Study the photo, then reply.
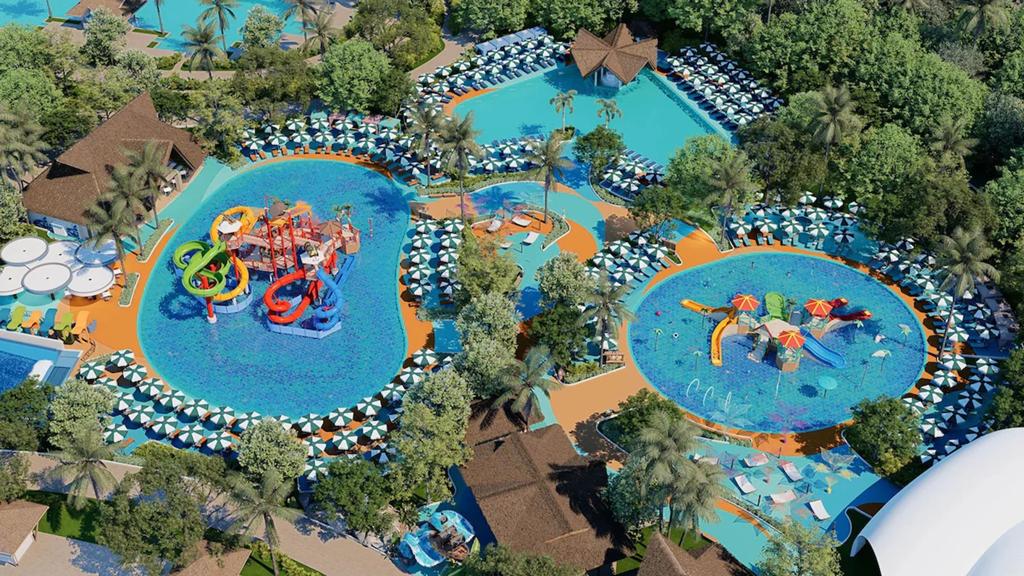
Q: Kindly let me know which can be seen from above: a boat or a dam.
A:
boat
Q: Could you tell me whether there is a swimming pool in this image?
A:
Yes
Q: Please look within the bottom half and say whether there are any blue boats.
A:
Yes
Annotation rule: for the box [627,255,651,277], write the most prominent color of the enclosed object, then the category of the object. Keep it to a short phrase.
white umbrella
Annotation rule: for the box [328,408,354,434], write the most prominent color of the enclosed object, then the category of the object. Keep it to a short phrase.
white umbrella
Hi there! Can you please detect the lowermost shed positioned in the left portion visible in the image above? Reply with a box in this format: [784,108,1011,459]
[170,540,254,576]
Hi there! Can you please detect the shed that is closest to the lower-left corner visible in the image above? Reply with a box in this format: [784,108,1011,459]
[0,494,53,571]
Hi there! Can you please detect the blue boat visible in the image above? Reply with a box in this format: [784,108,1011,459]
[399,509,474,568]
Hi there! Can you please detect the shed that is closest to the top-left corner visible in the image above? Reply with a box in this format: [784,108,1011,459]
[66,0,150,37]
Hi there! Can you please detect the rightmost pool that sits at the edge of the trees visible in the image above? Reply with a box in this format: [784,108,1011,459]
[632,253,924,430]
